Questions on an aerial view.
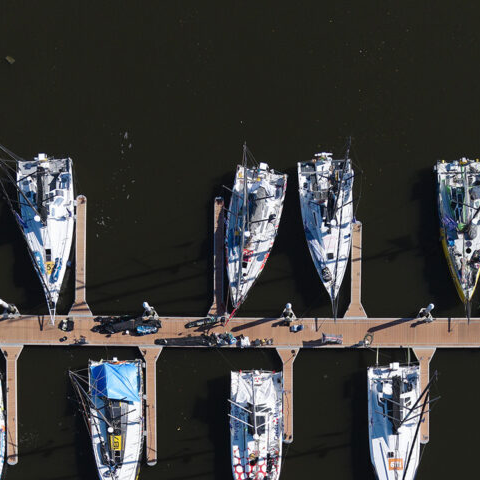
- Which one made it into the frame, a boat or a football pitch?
boat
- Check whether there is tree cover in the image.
No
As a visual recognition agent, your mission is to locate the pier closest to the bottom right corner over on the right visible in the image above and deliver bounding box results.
[411,348,435,443]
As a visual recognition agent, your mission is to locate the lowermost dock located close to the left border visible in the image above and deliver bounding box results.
[0,346,23,465]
